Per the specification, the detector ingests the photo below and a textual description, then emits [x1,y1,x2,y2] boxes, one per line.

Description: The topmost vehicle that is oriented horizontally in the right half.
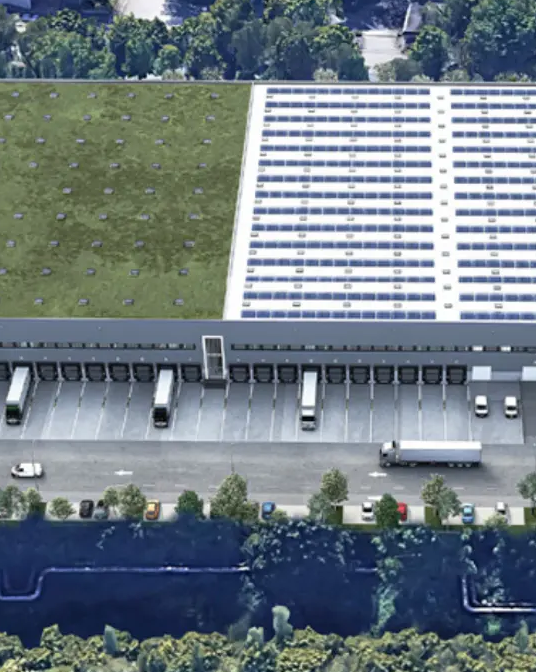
[380,441,483,468]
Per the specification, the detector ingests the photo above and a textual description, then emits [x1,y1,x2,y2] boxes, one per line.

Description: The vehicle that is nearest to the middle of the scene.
[300,371,319,431]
